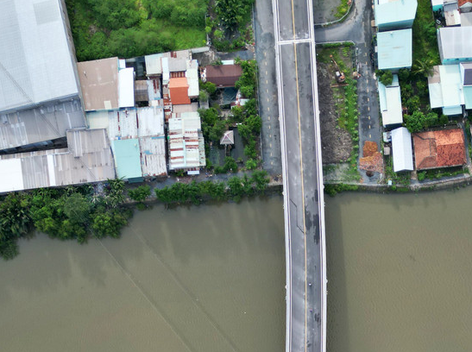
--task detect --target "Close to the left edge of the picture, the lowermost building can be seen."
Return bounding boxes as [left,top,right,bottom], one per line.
[0,128,119,196]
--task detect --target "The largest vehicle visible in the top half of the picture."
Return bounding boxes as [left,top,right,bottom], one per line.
[327,51,348,84]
